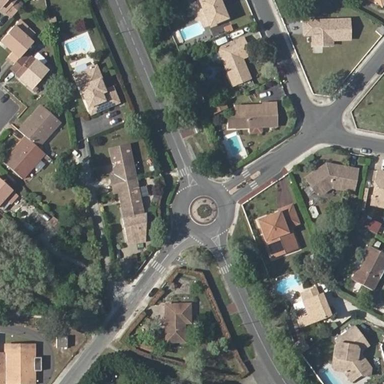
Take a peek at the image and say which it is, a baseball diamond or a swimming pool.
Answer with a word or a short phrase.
swimming pool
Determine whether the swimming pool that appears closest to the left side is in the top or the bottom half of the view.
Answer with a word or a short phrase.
top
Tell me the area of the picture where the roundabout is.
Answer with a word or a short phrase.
center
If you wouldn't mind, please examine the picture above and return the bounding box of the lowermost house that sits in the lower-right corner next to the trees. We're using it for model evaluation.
[334,326,374,383]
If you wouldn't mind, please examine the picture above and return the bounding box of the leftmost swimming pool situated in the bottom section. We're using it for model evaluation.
[276,274,300,294]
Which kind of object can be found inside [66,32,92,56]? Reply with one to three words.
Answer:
swimming pool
